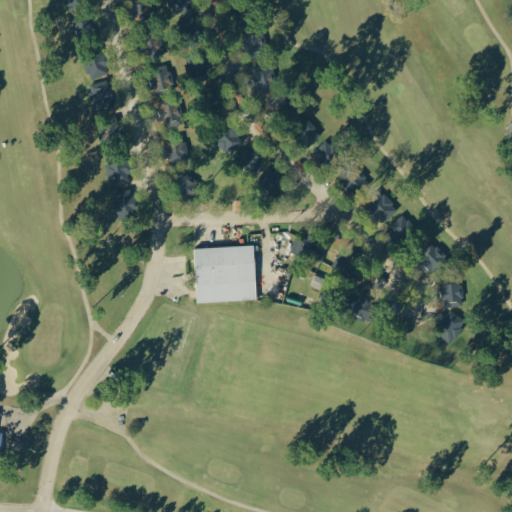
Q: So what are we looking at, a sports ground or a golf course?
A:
golf course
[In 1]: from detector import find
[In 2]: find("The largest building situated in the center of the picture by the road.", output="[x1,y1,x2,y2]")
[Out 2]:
[194,244,258,304]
